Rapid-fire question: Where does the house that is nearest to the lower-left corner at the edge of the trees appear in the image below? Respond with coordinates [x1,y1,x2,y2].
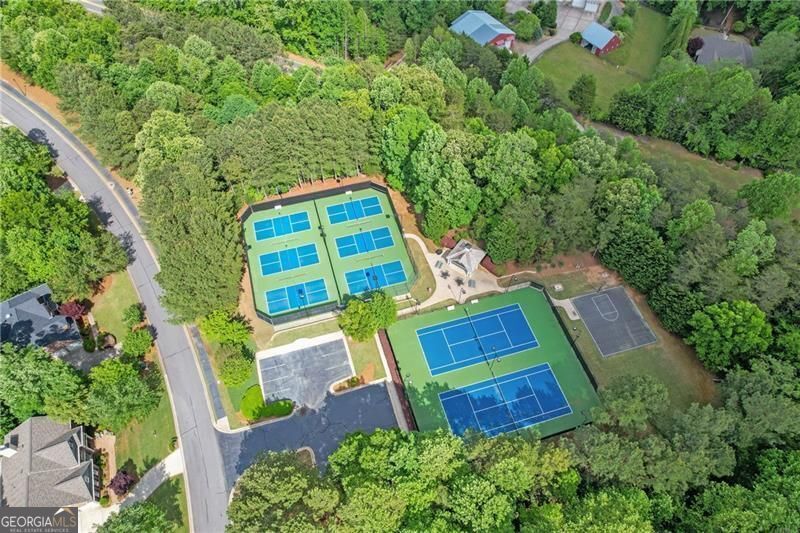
[0,413,102,533]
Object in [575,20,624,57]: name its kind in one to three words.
barn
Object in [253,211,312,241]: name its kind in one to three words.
sports court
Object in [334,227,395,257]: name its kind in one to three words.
sports court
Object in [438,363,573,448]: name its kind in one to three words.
tennis court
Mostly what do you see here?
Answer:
trees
